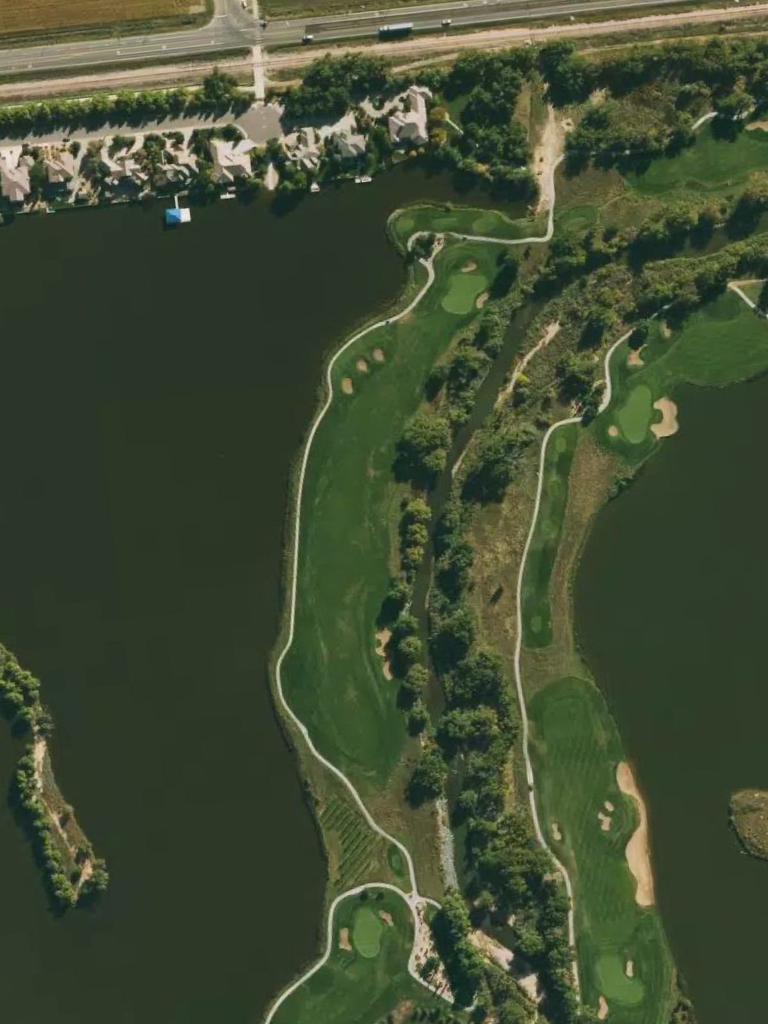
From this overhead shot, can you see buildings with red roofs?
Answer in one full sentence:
No, no building with a red roof can be seen from above.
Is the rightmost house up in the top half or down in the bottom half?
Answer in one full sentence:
Seen from above, the rightmost house lies in the top half of the view.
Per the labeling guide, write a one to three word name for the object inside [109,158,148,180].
house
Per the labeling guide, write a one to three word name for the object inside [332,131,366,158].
house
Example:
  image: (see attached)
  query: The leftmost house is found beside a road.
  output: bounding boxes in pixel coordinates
[0,154,33,201]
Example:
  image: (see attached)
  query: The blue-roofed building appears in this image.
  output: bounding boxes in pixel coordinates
[165,207,191,225]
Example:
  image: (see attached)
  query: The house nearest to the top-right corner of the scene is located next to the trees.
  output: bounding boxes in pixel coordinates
[388,86,428,144]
